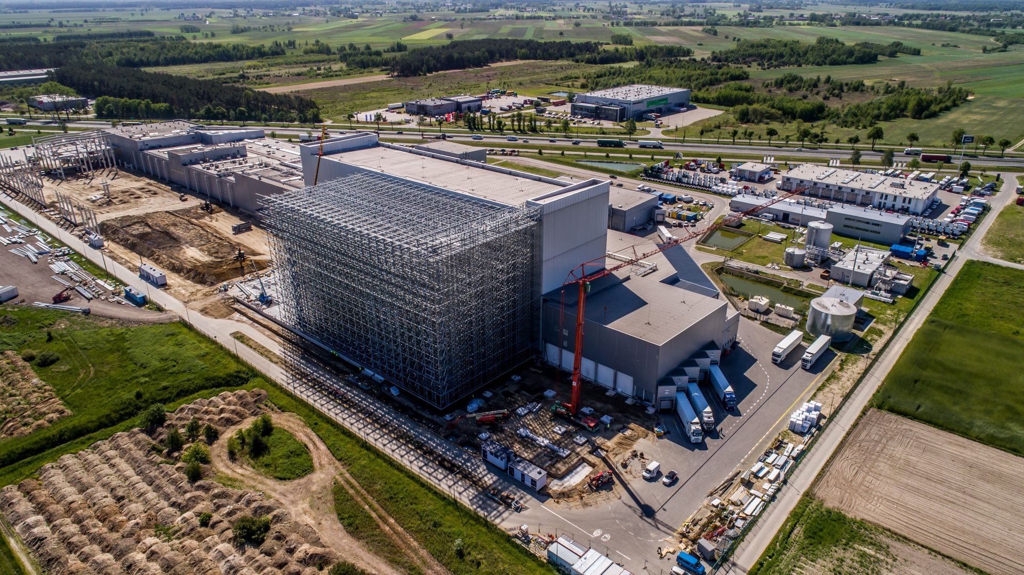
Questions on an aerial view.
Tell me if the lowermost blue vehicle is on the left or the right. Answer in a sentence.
The lowermost blue vehicle sits on the right side.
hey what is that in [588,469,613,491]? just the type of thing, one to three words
work vehicle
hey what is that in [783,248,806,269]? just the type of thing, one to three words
silo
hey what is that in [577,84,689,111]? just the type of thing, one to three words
building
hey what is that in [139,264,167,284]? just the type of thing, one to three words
building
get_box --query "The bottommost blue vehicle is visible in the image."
[677,545,707,572]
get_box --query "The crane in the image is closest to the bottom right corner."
[548,186,809,430]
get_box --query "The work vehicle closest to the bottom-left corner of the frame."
[52,284,70,301]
